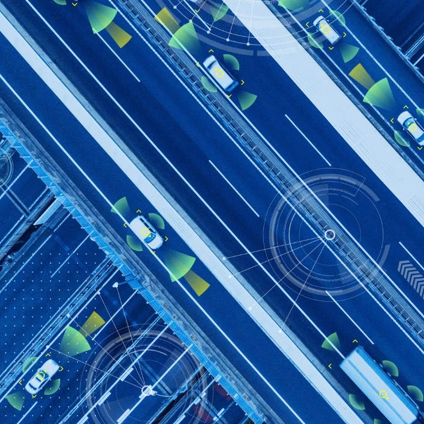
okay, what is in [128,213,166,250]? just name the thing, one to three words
car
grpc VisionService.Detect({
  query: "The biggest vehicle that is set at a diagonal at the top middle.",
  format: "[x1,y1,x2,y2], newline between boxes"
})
[203,55,239,93]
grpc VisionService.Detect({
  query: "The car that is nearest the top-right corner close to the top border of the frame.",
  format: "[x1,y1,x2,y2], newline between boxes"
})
[313,15,342,45]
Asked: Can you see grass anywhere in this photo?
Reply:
No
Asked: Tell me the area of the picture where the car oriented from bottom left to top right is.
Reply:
bottom left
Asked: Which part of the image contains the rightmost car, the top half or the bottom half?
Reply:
top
